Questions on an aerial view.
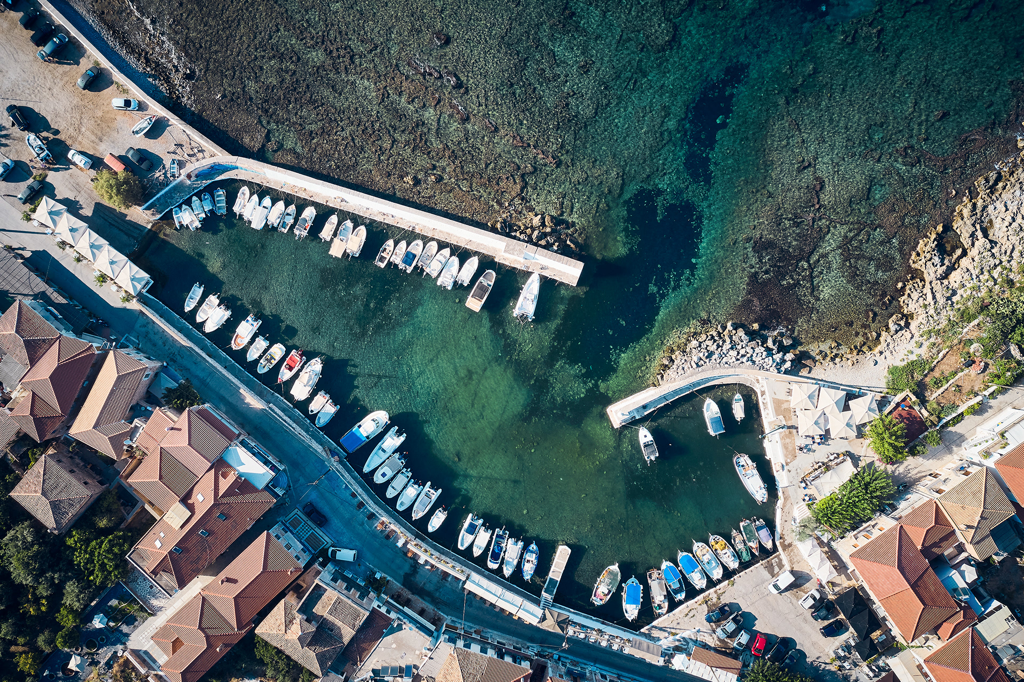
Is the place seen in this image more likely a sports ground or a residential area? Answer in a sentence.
This looks like a residential area.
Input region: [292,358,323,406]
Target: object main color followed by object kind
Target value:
white boat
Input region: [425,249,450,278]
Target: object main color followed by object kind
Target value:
white boat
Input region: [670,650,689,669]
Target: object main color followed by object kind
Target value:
white umbrella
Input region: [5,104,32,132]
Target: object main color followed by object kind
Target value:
black car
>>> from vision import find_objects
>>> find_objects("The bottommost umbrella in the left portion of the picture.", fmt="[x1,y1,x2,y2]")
[68,649,93,672]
